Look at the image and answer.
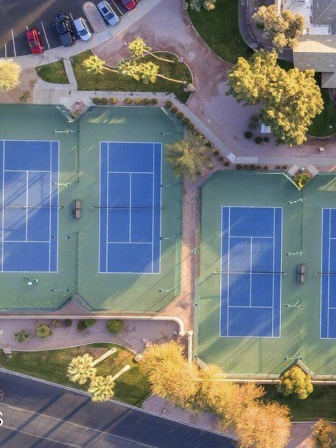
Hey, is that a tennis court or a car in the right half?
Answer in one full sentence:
You can see a tennis court in the right half.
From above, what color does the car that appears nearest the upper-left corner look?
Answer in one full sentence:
In this view, the car that appears nearest the upper-left corner is red.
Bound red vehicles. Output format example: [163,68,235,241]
[119,0,135,9]
[25,28,45,55]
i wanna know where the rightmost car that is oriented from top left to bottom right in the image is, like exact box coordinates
[96,1,120,25]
